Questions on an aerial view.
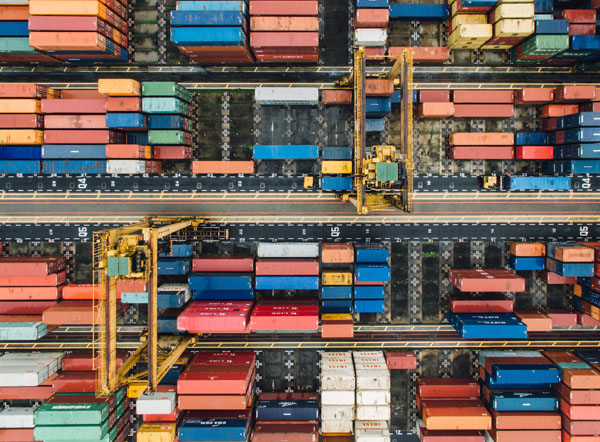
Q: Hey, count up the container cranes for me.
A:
two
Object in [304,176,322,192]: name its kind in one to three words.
vehicle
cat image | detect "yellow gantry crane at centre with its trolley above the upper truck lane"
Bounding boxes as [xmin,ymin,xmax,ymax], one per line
[338,46,415,213]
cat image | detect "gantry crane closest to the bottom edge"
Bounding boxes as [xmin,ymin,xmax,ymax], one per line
[91,216,208,389]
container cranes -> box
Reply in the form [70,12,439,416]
[338,46,415,213]
[91,216,208,389]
